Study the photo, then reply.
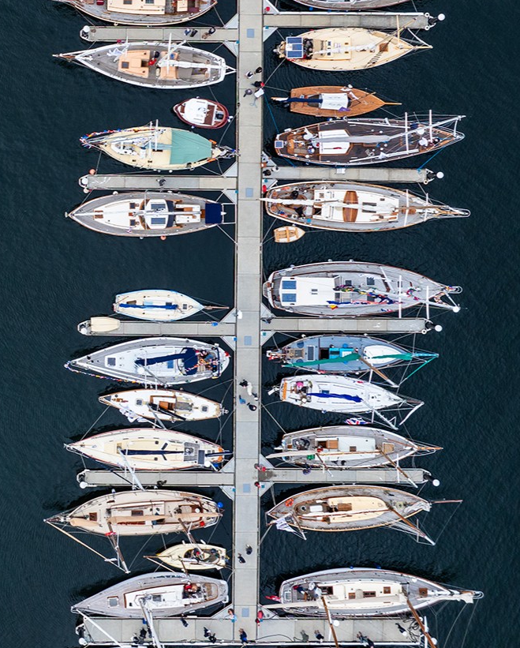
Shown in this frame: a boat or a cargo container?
boat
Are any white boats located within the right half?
Yes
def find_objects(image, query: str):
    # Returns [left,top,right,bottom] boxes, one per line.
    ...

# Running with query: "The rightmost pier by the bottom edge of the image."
[258,604,424,648]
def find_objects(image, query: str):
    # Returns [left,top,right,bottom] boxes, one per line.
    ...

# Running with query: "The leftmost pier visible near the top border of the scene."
[79,15,237,55]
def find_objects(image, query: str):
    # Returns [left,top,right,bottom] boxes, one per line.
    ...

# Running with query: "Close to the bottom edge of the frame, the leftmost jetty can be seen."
[78,602,233,647]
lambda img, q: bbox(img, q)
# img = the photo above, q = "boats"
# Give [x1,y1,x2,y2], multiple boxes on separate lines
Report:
[254,183,470,233]
[43,492,223,576]
[269,376,424,431]
[263,262,463,320]
[275,110,467,164]
[260,568,484,648]
[271,87,403,117]
[65,338,230,389]
[51,0,217,25]
[267,486,464,547]
[263,426,445,489]
[272,226,306,242]
[71,575,228,648]
[362,344,402,363]
[275,16,434,70]
[64,429,233,493]
[51,34,236,88]
[80,118,239,171]
[99,389,227,431]
[65,192,235,236]
[172,98,234,127]
[143,543,230,574]
[90,316,119,332]
[267,334,440,388]
[113,289,230,321]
